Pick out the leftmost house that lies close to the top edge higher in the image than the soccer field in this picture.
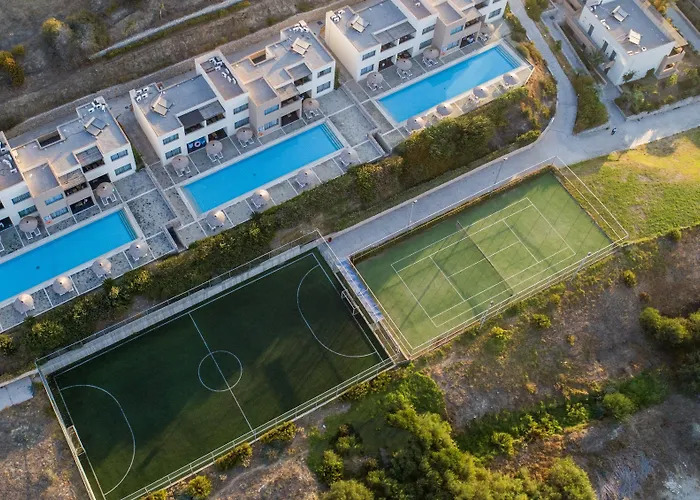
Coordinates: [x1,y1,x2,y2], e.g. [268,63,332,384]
[127,23,335,166]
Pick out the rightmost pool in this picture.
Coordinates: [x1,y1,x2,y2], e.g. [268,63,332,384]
[372,41,528,129]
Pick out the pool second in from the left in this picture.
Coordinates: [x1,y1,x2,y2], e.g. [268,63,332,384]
[175,118,350,220]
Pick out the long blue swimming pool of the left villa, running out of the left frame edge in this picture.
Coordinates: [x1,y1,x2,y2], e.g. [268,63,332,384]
[0,209,143,311]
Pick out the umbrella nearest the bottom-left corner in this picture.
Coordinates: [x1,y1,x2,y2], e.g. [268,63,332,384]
[13,293,33,313]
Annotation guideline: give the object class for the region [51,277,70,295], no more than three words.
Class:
umbrella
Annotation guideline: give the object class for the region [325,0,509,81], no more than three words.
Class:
house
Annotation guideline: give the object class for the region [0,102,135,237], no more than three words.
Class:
house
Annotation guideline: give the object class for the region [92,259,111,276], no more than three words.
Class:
umbrella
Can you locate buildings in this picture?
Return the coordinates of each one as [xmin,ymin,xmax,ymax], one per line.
[127,23,335,166]
[579,0,686,78]
[325,0,509,81]
[0,102,135,237]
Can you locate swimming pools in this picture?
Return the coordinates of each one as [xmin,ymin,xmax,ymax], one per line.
[372,41,528,129]
[175,118,350,220]
[0,209,143,311]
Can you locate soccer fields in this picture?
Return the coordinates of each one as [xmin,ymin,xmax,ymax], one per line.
[46,253,394,500]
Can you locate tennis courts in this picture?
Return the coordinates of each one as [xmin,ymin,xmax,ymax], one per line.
[351,171,613,355]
